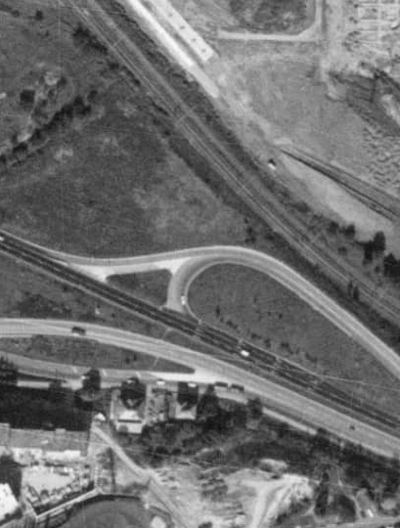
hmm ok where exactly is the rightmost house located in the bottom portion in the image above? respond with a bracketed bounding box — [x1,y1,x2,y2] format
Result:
[175,405,196,425]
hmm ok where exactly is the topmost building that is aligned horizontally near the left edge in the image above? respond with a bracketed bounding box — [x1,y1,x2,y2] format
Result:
[9,426,92,455]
